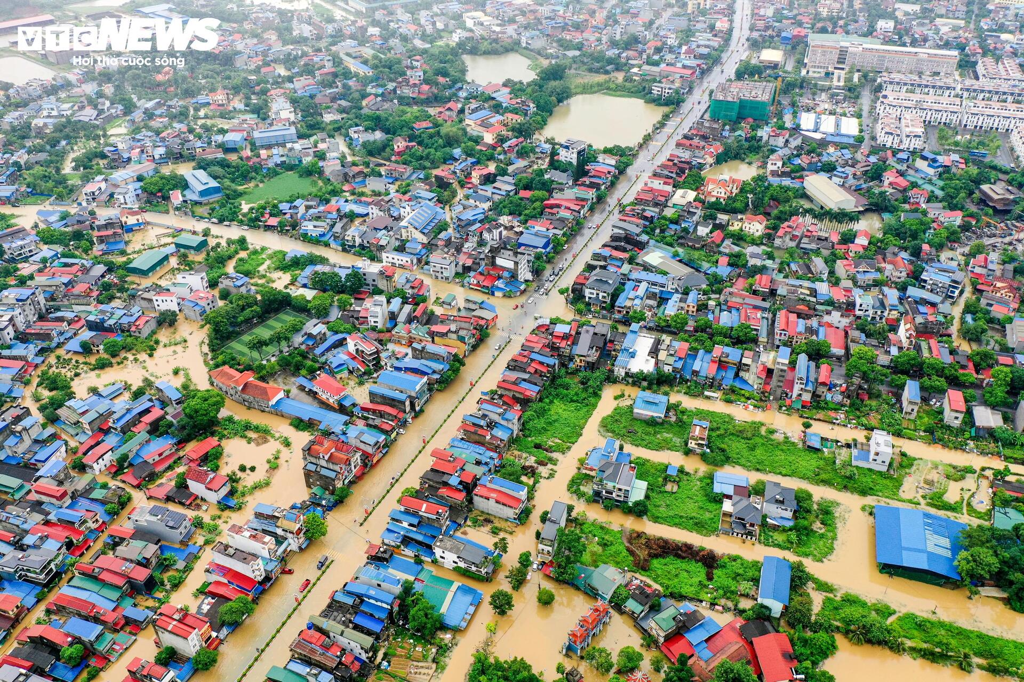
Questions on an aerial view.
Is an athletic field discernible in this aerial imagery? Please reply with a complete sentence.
Yes, there's an athletic field down there.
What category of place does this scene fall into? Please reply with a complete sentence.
The area seen from above is a residential area.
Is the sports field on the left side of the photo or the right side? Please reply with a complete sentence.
You can find the sports field on the left side of the picture.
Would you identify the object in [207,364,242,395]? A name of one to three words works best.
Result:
house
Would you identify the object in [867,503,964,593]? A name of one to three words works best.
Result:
building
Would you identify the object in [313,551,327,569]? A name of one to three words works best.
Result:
vehicle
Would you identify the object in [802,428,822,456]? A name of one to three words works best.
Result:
shed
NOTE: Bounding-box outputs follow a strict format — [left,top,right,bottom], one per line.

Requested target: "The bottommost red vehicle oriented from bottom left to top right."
[296,577,313,594]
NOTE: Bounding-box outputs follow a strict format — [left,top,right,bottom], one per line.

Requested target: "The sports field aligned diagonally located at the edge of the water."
[224,309,305,363]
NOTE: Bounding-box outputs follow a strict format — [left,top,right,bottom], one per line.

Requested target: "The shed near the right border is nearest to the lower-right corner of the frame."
[974,584,1007,604]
